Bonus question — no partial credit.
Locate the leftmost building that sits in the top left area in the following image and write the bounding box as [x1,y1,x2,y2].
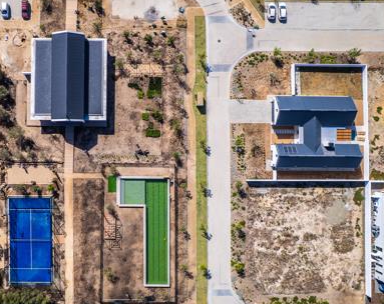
[28,29,107,127]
